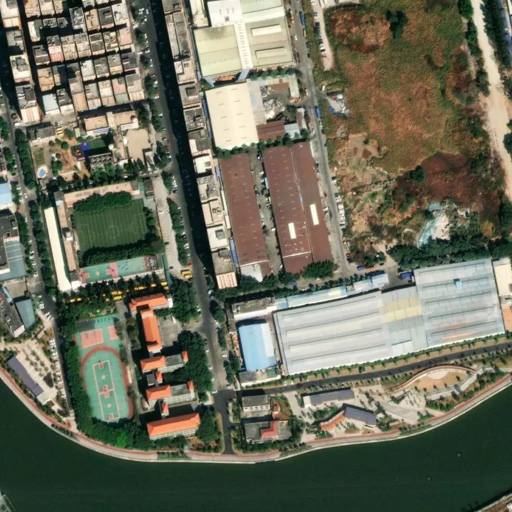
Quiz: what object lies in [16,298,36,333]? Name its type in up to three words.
shed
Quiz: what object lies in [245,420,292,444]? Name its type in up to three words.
house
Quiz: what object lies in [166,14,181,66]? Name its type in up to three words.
building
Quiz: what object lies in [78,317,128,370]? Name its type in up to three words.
basketball court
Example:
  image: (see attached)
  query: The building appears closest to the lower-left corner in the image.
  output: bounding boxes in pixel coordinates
[8,356,44,398]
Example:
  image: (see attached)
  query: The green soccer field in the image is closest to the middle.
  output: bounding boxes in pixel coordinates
[76,198,150,255]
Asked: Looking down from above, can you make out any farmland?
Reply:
No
